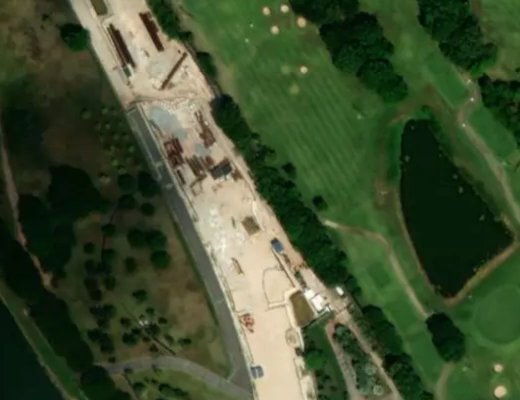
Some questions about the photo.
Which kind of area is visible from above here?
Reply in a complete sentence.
This image shows a golf course.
